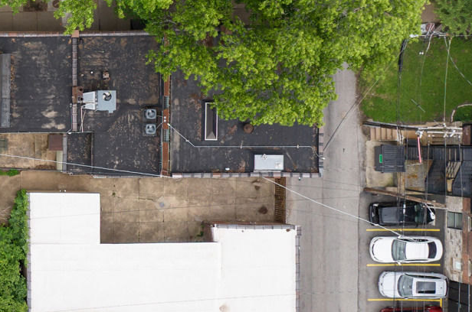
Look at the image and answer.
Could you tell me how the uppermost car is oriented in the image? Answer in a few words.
horizontally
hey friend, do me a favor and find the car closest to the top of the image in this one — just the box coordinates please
[363,198,432,232]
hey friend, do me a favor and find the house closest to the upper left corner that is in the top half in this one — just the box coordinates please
[0,35,72,135]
